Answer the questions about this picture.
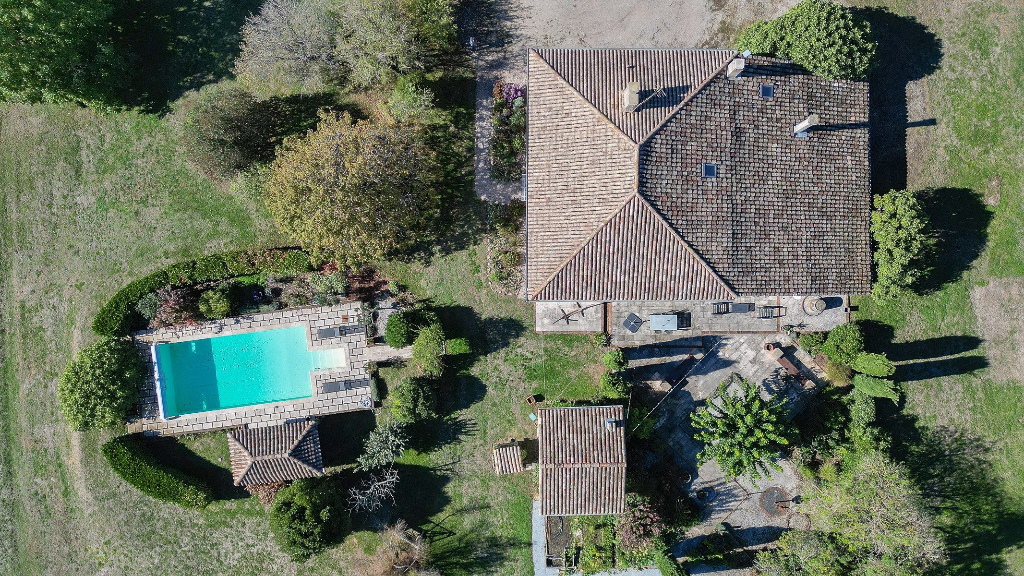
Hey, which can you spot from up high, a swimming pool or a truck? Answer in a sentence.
Visible in the photo is a swimming pool.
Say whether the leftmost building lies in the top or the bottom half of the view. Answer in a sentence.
Seen from above, the leftmost building lies in the bottom half of the view.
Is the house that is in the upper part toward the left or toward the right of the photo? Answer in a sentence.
It is on the right.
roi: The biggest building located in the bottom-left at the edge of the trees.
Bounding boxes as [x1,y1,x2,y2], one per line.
[225,419,328,488]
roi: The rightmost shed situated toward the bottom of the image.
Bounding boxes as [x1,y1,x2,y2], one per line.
[536,404,630,519]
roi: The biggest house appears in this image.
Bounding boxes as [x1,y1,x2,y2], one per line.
[521,46,872,303]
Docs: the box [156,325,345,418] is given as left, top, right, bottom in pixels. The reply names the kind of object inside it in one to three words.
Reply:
swimming pool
